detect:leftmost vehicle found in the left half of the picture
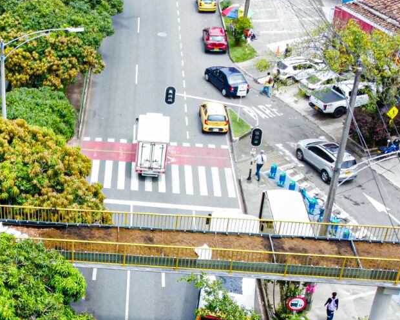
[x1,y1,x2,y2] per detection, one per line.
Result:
[133,108,172,179]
